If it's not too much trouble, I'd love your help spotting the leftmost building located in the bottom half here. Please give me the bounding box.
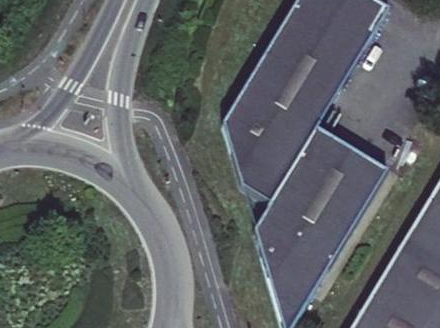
[256,124,388,328]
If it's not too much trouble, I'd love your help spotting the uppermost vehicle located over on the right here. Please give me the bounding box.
[364,48,381,72]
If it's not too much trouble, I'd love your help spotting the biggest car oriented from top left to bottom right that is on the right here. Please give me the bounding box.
[382,129,402,146]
